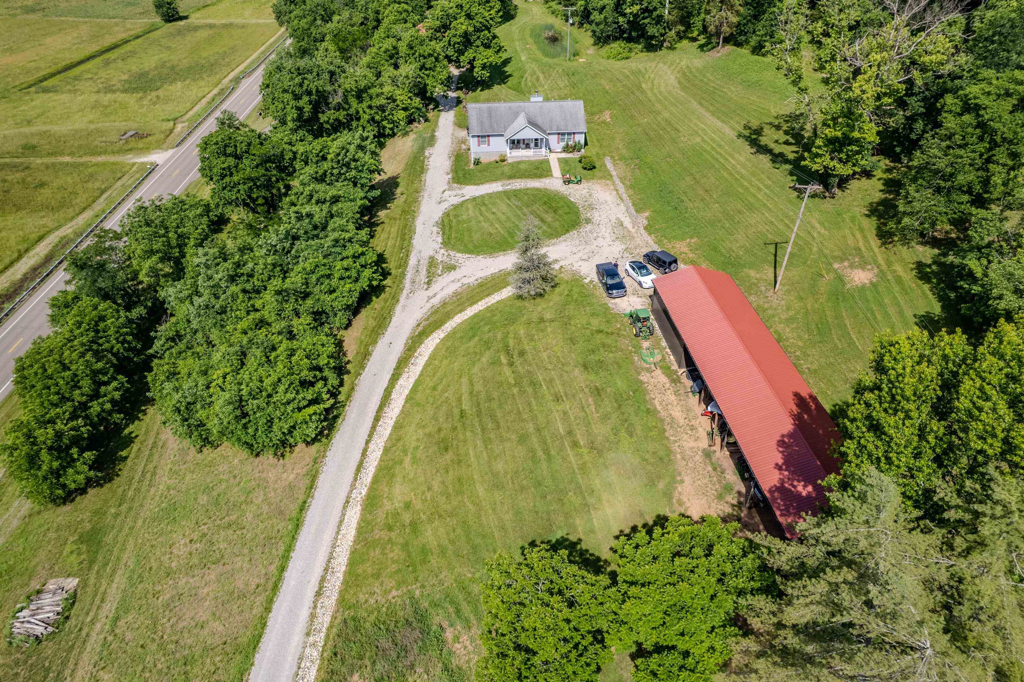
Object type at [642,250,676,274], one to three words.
car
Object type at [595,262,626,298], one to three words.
truck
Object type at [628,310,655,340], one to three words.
work vehicle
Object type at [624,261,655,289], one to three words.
car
